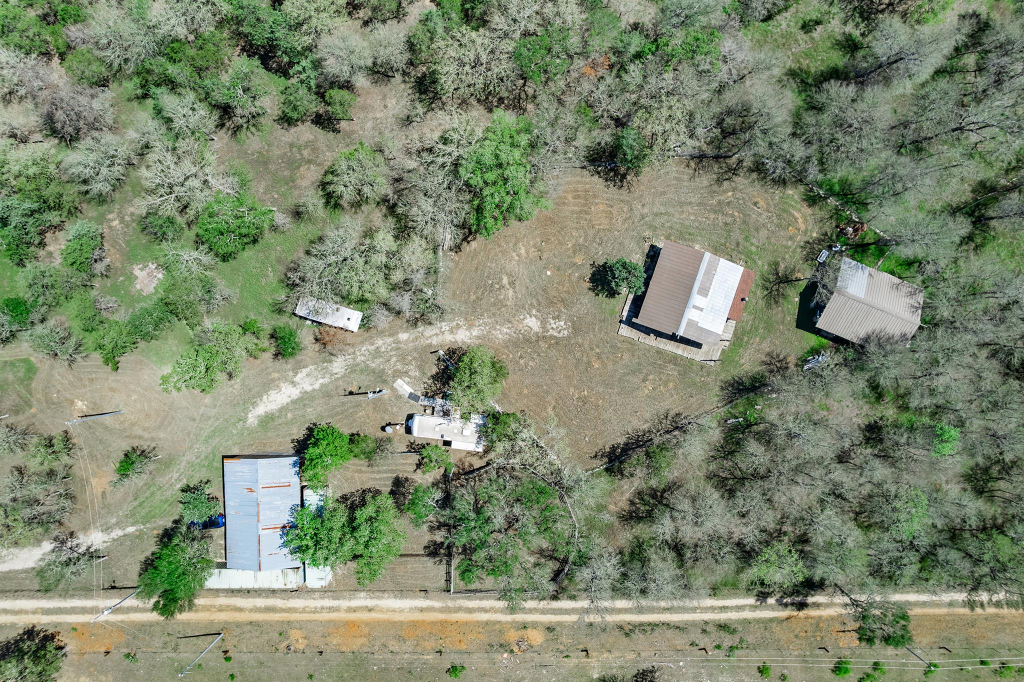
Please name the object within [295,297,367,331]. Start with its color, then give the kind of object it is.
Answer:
white trailer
